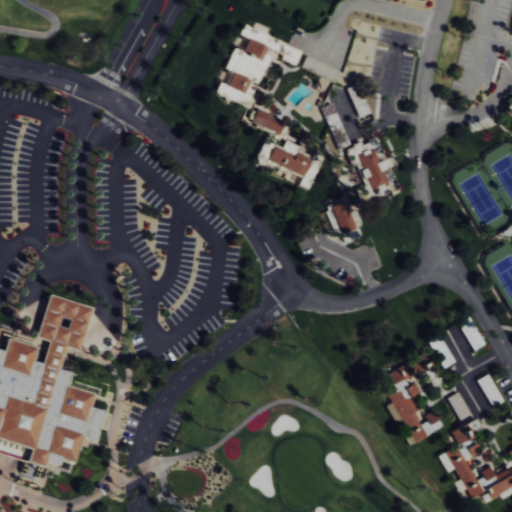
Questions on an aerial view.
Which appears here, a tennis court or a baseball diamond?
tennis court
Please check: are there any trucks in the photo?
No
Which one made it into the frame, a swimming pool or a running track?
swimming pool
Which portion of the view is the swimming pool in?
top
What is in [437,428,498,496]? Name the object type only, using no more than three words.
house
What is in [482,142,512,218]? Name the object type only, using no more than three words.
tennis court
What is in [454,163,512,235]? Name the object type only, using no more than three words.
tennis court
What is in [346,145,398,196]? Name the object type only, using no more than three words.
house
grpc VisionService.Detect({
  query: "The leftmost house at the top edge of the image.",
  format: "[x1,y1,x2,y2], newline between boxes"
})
[216,22,304,108]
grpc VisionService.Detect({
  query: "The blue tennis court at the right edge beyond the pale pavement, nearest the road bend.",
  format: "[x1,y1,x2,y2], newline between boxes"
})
[487,242,512,310]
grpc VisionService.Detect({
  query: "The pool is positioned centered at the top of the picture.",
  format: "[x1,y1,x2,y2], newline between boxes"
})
[285,76,323,121]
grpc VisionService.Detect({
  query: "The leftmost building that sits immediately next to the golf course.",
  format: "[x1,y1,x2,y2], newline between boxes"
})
[0,294,106,467]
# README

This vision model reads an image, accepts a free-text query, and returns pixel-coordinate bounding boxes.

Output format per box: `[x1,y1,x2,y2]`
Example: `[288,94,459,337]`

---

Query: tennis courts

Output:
[454,163,512,235]
[487,242,512,310]
[482,142,512,218]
